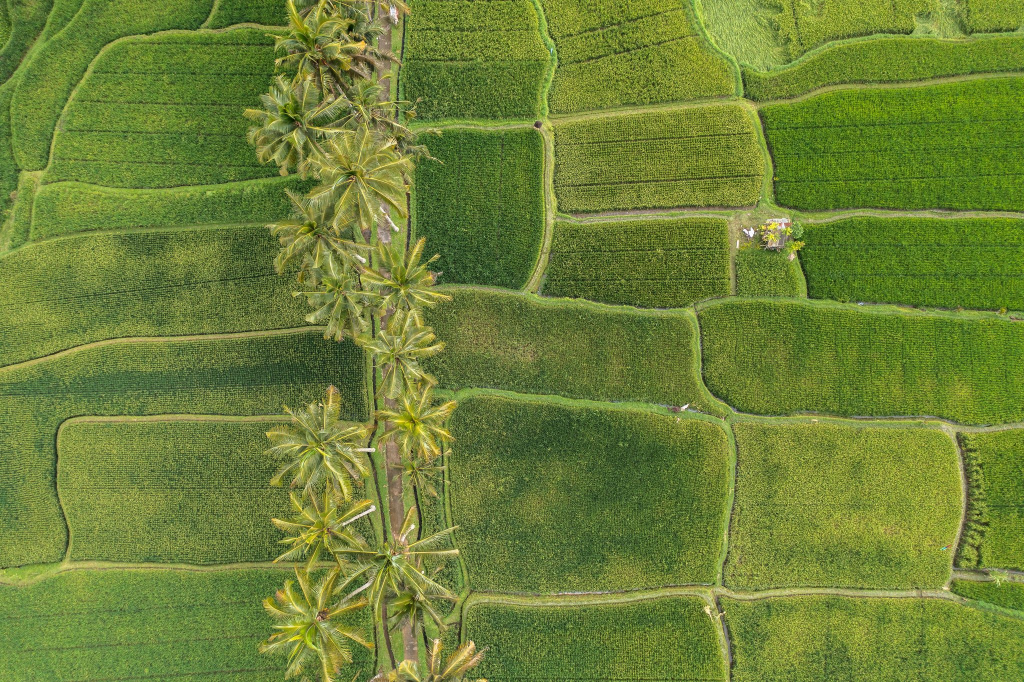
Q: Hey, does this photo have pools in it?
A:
No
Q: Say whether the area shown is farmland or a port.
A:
farmland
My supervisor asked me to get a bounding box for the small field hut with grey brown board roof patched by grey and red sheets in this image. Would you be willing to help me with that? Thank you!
[758,218,794,250]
